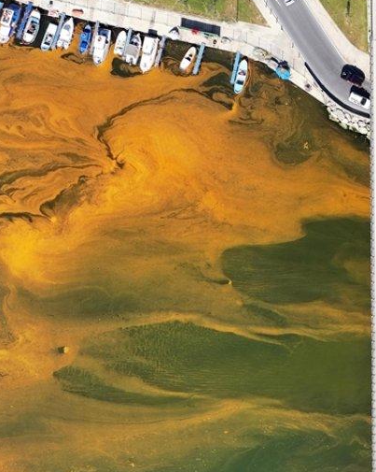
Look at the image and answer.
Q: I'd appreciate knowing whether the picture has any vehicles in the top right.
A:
Yes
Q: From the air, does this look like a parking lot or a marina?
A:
marina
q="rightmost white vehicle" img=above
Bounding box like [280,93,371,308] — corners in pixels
[346,89,370,109]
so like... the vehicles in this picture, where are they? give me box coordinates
[346,89,370,109]
[341,65,365,84]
